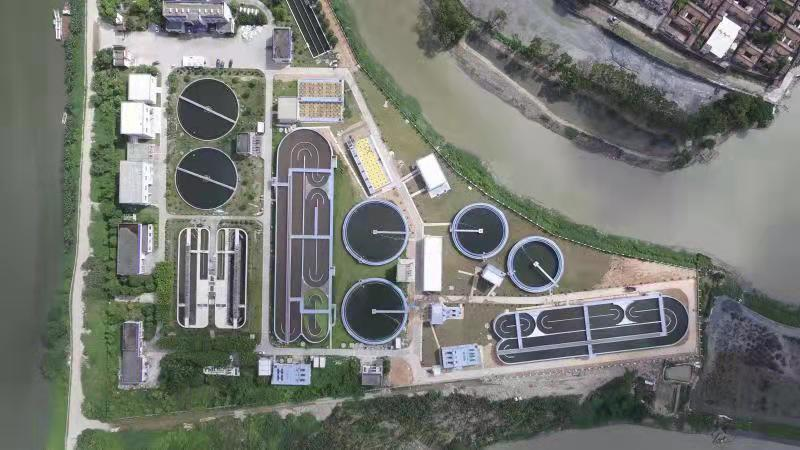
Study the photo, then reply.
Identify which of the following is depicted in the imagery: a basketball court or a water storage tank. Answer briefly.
water storage tank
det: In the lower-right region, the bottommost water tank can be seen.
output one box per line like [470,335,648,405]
[492,293,689,365]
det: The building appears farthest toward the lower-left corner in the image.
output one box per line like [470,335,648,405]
[120,320,149,388]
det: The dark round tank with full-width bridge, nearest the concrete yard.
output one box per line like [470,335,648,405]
[177,78,240,141]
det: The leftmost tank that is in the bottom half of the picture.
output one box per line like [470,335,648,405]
[177,227,212,329]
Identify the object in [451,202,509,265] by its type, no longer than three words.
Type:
water tank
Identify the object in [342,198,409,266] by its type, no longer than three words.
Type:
water tank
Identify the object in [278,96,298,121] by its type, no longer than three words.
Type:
house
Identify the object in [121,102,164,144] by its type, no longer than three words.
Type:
building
